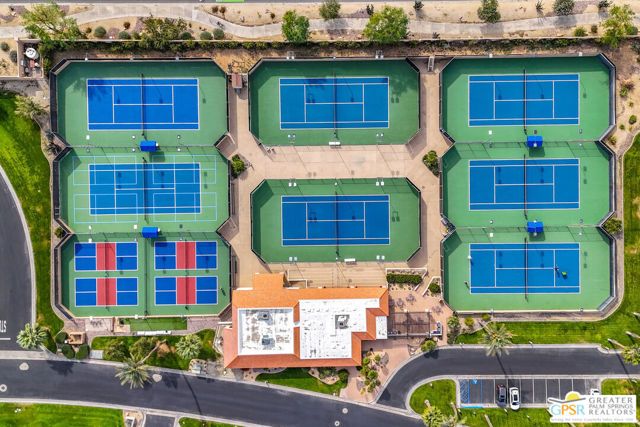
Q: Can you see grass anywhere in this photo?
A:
Yes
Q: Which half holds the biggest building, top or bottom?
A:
bottom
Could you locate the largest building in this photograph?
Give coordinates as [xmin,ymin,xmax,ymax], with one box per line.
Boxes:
[224,273,389,369]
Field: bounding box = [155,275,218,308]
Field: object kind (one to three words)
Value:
sports court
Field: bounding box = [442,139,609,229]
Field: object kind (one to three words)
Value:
tennis court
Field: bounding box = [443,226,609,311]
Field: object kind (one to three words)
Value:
tennis court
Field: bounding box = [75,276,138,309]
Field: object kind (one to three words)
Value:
sports court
